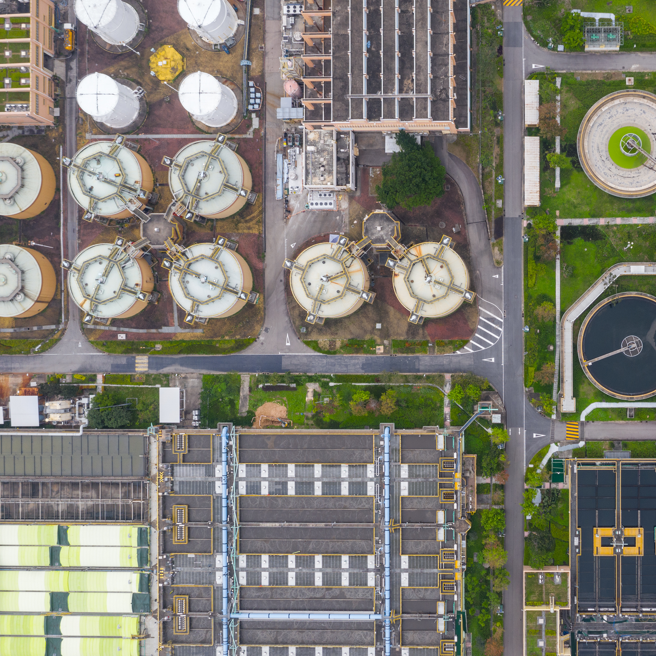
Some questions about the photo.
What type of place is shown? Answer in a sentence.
This image shows an industrial area.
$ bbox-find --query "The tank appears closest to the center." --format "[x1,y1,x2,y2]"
[281,235,372,324]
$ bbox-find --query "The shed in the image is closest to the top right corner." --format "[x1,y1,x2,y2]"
[525,80,540,126]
